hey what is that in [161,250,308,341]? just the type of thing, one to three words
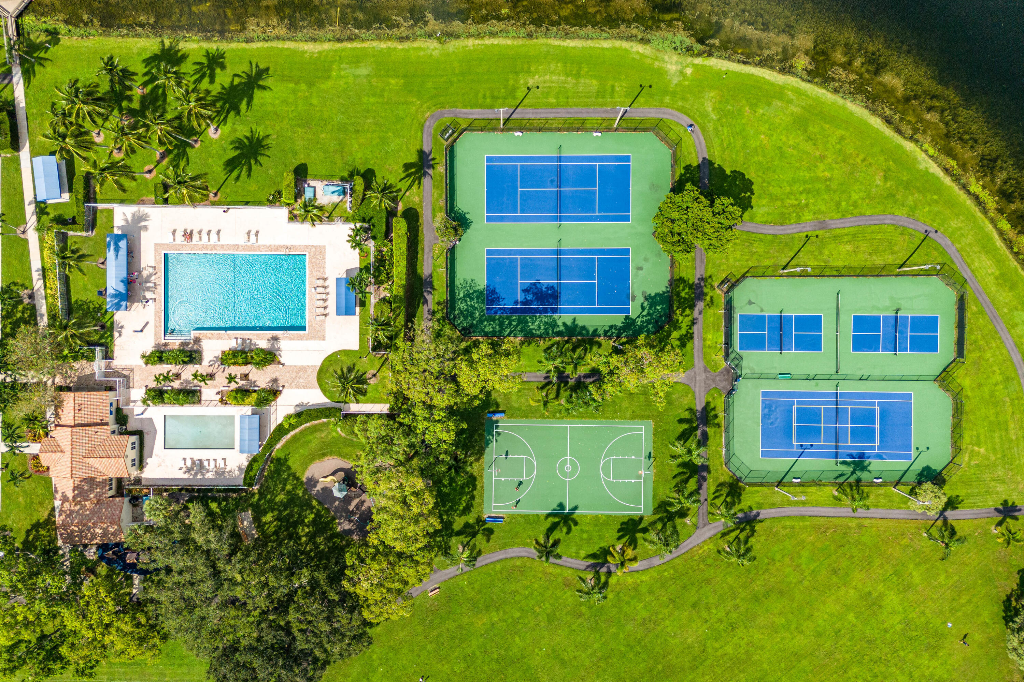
swimming pool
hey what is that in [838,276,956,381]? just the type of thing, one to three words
sports court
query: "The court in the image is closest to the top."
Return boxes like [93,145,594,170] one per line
[447,131,672,235]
